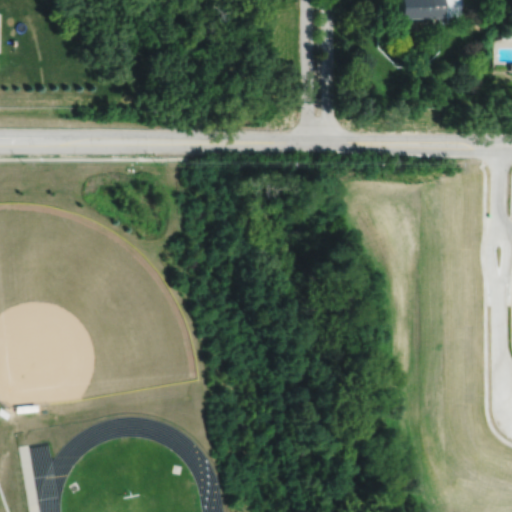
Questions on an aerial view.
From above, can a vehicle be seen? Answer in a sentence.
No, the photo shows no vehicle.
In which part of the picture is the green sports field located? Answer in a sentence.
The green sports field appears toward the bottom left of the photo.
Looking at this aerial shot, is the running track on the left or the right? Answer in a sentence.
It is on the left.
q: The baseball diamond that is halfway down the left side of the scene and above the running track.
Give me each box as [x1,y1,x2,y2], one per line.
[0,204,198,405]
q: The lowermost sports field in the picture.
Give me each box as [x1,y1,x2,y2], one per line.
[61,438,204,512]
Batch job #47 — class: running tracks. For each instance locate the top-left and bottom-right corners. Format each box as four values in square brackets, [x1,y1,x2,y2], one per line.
[31,417,224,512]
